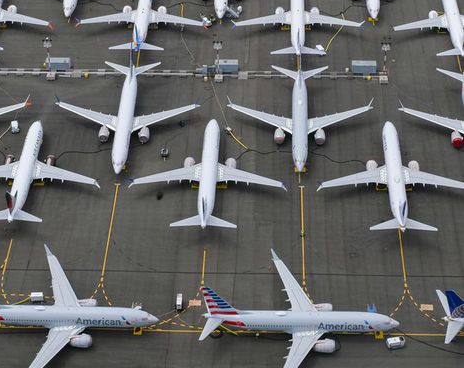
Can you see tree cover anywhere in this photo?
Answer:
No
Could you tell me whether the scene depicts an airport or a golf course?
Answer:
airport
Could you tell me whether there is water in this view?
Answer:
No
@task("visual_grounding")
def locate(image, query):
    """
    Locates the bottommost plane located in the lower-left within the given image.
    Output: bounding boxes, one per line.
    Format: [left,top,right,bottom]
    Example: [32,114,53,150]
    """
[0,242,159,368]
